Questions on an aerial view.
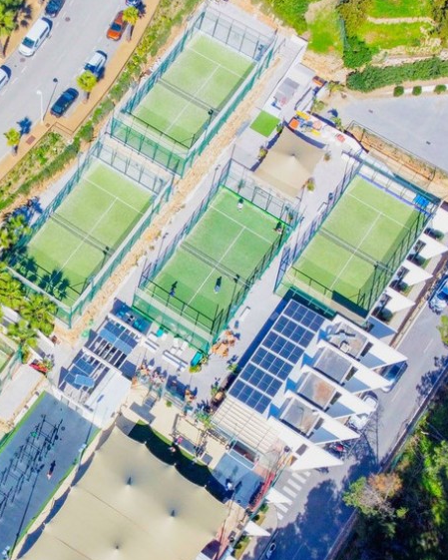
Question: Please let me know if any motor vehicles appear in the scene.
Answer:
Yes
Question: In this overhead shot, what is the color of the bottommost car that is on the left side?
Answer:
blue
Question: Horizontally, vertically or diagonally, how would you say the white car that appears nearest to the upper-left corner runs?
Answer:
diagonally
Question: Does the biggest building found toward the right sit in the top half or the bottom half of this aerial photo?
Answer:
bottom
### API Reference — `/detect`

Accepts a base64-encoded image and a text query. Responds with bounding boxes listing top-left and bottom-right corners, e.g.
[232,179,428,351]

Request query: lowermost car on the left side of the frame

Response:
[50,84,80,117]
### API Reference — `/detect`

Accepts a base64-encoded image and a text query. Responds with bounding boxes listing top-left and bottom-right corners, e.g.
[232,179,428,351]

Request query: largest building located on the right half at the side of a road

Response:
[224,299,408,471]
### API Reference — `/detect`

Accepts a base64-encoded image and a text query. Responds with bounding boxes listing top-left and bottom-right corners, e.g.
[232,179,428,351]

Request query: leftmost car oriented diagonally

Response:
[20,15,50,52]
